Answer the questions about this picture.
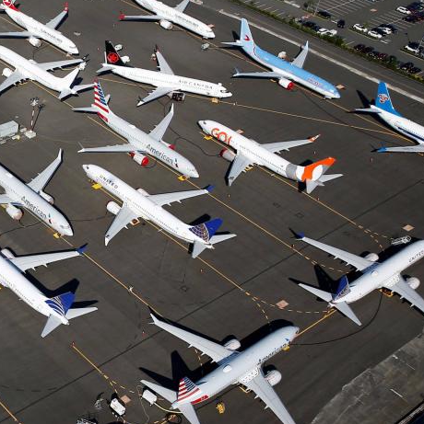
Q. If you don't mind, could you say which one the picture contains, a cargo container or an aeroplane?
aeroplane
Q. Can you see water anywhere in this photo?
No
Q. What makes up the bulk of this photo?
paved ground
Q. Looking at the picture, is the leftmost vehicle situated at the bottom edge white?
Yes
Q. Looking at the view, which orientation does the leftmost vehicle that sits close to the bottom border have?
on a diagonal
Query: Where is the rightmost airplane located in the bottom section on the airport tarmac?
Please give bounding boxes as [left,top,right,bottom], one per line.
[298,229,424,327]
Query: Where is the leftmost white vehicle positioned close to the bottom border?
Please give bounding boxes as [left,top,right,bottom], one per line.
[108,395,131,416]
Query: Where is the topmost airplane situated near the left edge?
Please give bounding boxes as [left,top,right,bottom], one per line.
[0,0,80,58]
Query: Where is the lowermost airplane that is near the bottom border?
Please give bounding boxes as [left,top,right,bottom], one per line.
[140,312,300,424]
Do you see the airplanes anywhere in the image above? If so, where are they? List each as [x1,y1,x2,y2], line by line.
[0,147,71,235]
[298,229,424,327]
[0,244,97,337]
[121,0,215,43]
[140,312,300,424]
[72,82,199,177]
[96,43,231,110]
[0,0,80,58]
[354,84,424,158]
[0,47,95,99]
[83,167,236,259]
[221,19,341,99]
[199,122,343,194]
